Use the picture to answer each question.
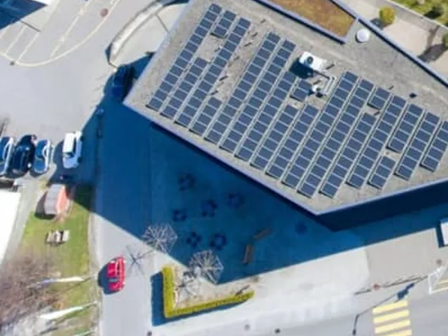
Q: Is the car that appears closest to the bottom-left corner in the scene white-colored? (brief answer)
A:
No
